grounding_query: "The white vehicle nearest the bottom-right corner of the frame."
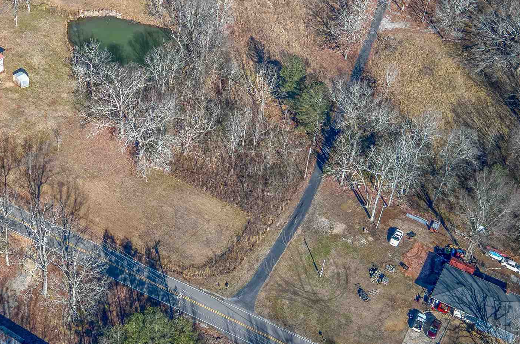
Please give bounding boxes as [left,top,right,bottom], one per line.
[501,256,520,274]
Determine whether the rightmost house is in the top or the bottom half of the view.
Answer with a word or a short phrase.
bottom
